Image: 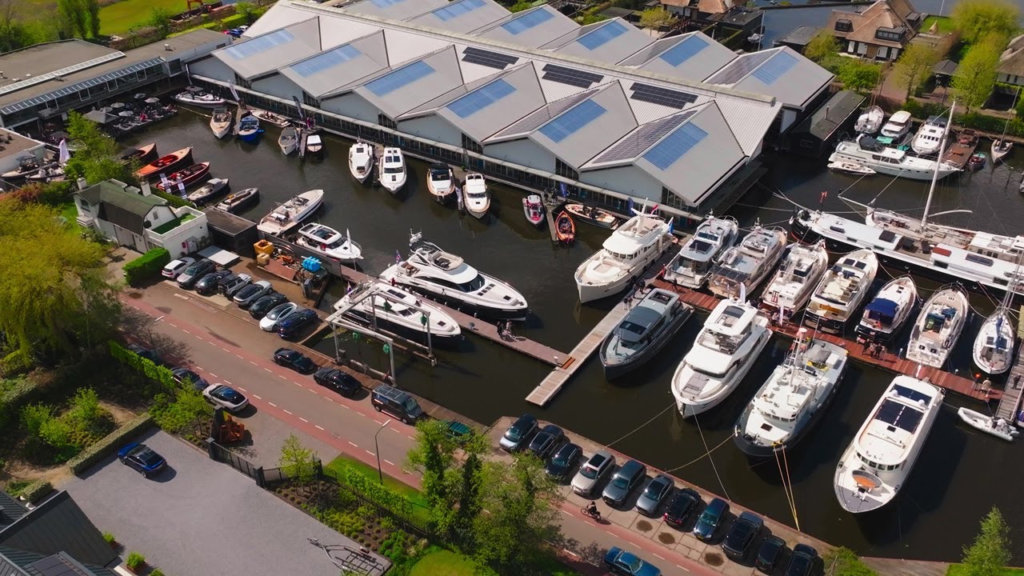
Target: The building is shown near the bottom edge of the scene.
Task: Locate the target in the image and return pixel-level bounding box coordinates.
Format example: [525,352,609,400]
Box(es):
[0,476,125,576]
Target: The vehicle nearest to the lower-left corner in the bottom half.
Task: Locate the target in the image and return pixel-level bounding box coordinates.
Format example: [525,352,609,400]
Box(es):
[119,444,167,481]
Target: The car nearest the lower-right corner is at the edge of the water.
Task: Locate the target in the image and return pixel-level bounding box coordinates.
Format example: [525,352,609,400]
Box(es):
[780,537,821,576]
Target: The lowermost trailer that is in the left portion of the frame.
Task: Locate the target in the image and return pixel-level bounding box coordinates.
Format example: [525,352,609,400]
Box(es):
[310,526,394,576]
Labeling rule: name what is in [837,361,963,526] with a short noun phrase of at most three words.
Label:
boat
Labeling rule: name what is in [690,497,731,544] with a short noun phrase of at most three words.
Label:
car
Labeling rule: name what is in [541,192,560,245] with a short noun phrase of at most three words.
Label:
pier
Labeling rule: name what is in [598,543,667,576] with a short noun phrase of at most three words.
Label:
car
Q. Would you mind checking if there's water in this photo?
Yes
